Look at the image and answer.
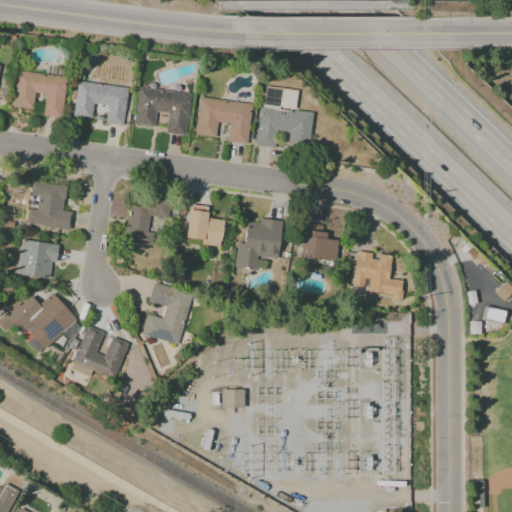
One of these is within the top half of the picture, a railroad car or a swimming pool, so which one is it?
swimming pool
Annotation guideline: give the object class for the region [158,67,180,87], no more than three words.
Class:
swimming pool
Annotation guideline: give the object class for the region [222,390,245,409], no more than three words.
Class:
building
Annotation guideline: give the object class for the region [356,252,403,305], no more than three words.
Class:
house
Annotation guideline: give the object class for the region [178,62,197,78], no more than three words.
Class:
swimming pool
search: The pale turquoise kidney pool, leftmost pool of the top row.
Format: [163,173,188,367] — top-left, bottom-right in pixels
[33,46,60,64]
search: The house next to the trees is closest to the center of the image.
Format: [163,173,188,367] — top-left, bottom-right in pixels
[236,219,284,268]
